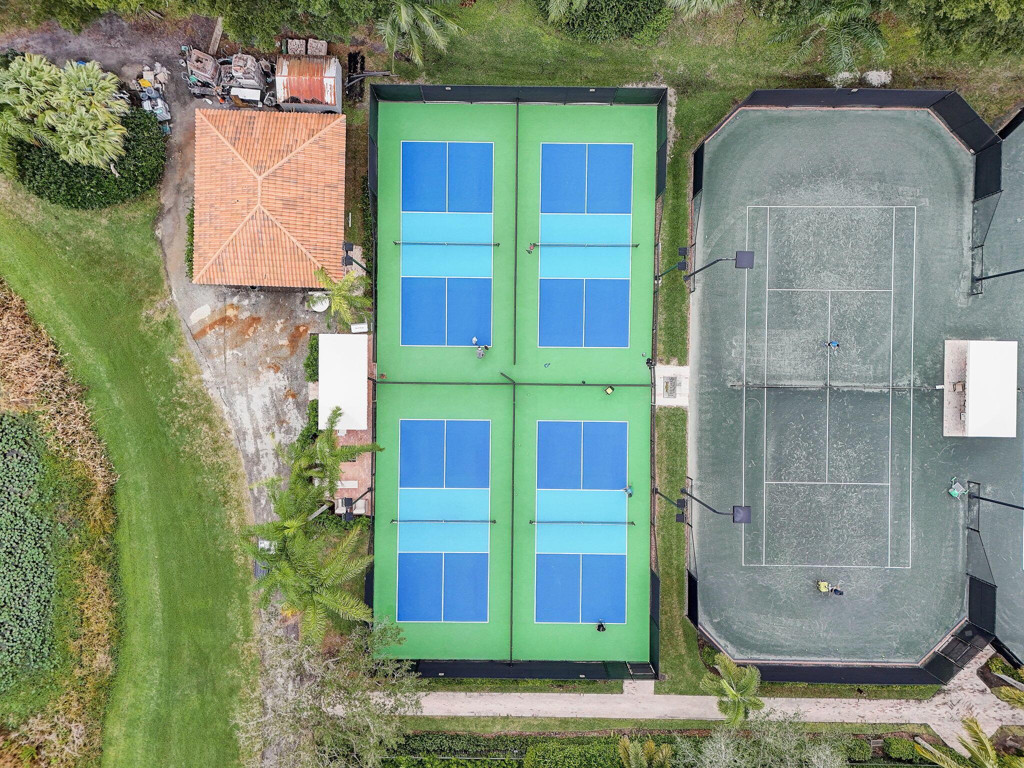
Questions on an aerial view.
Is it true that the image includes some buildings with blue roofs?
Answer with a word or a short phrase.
No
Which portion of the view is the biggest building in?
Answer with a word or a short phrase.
top left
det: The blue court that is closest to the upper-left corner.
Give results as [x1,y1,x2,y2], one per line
[399,141,495,346]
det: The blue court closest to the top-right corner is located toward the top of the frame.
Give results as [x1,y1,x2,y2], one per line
[538,143,634,348]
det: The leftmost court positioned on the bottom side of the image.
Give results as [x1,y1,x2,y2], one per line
[396,418,492,624]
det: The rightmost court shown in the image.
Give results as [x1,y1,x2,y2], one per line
[966,127,1024,665]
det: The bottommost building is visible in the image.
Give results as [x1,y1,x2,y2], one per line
[189,106,349,290]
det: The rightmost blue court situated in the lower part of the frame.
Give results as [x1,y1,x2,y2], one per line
[534,420,629,625]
